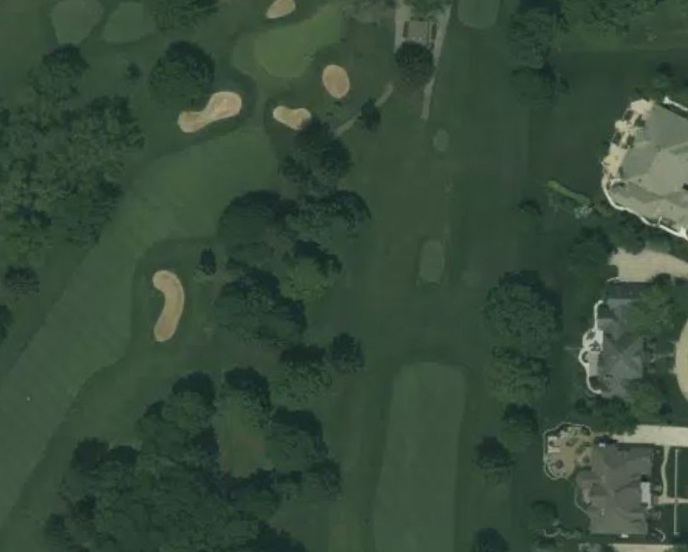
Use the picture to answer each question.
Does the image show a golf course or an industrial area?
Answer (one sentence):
The area seen from above is a golf course.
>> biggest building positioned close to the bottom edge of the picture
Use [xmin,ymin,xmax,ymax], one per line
[575,443,653,534]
